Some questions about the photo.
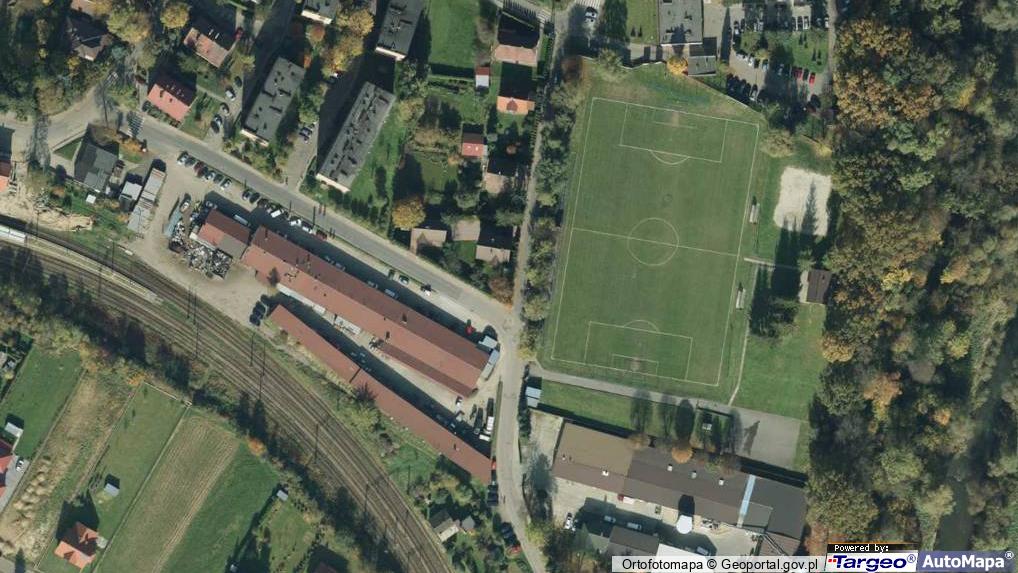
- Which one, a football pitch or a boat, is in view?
football pitch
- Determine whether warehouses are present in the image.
Yes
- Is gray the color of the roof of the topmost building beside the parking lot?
Yes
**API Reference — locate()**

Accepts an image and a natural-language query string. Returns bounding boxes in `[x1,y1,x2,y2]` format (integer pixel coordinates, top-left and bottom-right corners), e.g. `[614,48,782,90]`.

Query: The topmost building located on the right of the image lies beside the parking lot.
[655,0,704,46]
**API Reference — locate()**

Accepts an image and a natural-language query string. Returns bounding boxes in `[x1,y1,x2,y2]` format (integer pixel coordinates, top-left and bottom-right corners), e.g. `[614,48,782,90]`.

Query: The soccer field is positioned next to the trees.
[544,91,766,393]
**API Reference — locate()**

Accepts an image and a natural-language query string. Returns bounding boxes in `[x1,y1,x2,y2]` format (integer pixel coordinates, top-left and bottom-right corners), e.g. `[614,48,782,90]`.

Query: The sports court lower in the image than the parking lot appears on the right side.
[772,167,832,235]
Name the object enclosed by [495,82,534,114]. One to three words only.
house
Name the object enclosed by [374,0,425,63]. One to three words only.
building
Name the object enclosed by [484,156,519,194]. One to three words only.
house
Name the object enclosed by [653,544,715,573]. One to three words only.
building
